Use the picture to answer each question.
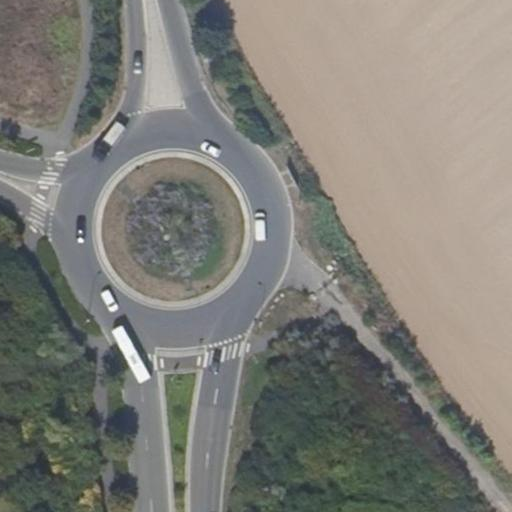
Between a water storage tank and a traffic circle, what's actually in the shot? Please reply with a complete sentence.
There is a traffic circle in the scene.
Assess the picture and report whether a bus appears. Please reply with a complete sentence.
Yes, a bus appears in the view.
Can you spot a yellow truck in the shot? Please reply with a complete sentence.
No, I can't see a single yellow truck in this photo.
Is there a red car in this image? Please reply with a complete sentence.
No, I find no red car anywhere in the image.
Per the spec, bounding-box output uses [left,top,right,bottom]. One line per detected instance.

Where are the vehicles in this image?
[254,212,266,241]
[212,352,222,374]
[94,120,124,156]
[200,140,220,158]
[112,325,152,386]
[76,221,86,243]
[101,290,118,312]
[132,54,143,75]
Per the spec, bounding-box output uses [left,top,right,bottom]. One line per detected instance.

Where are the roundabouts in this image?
[52,109,292,350]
